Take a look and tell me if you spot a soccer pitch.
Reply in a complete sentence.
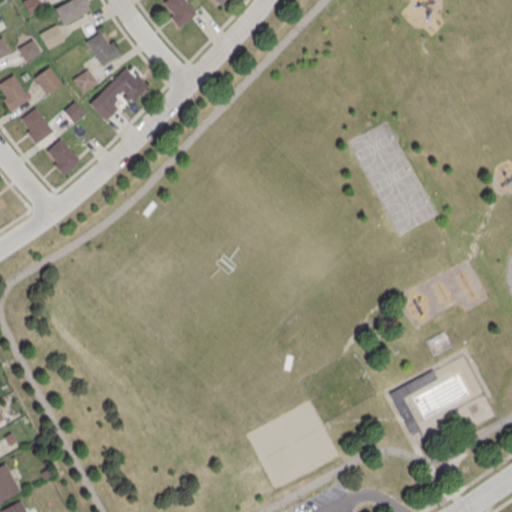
Yes, there is a soccer pitch in the image.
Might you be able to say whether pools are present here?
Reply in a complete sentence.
Yes, a pool appears in the view.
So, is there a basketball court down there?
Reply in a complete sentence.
Yes, the image includes a basketball court.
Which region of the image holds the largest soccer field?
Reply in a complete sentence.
The largest soccer field sits in the center section of the image.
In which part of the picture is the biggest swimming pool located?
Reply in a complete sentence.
The biggest swimming pool is in the bottom right part of the image.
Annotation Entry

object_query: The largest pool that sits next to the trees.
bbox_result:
[388,356,496,454]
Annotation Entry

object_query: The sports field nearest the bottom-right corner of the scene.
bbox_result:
[303,352,376,423]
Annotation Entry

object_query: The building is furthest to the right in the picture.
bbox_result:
[391,372,437,436]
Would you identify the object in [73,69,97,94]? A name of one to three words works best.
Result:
building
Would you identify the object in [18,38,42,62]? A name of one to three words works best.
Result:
building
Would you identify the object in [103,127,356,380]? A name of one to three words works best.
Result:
soccer field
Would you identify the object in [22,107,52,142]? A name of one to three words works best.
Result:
house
